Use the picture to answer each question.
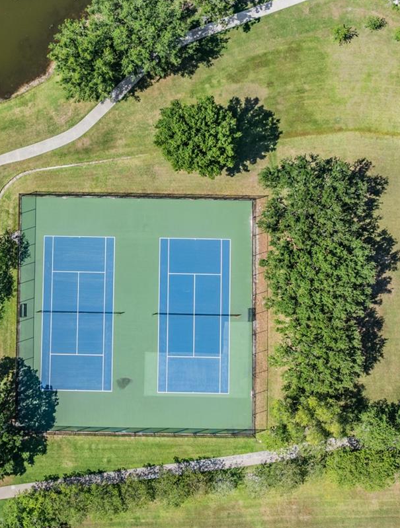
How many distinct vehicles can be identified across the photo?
none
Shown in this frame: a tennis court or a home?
tennis court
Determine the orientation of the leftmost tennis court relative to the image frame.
vertically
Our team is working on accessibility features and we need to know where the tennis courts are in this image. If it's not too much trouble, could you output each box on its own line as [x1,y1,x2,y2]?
[40,236,115,392]
[155,238,239,395]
